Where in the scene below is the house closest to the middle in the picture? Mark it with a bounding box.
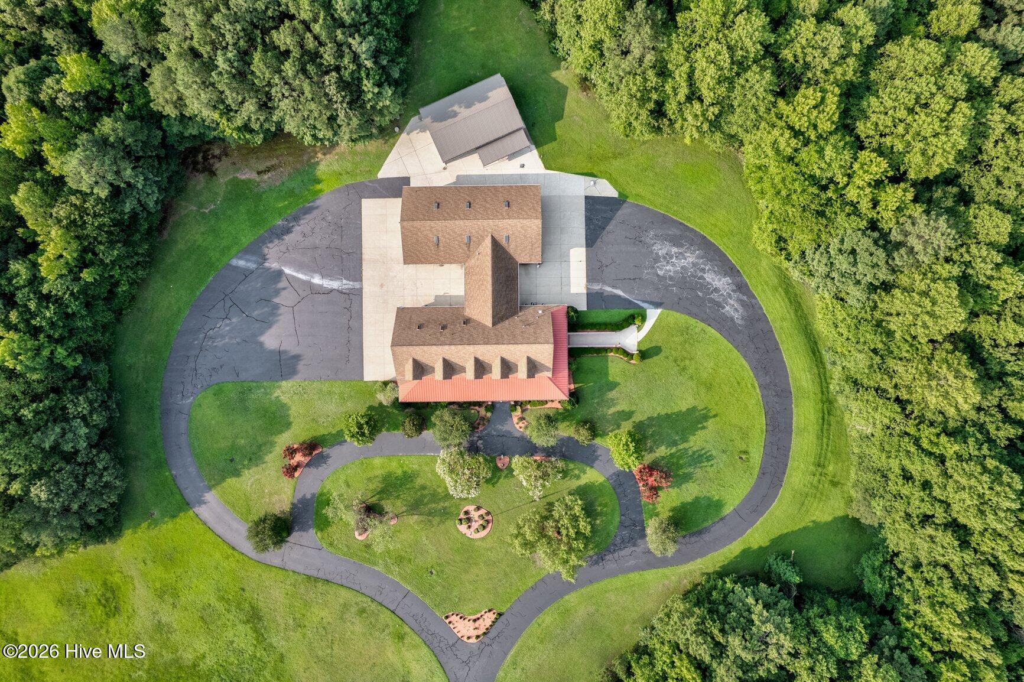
[391,184,569,402]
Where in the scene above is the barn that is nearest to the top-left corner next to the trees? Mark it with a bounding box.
[420,72,530,168]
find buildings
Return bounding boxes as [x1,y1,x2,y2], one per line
[420,72,530,168]
[391,184,569,402]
